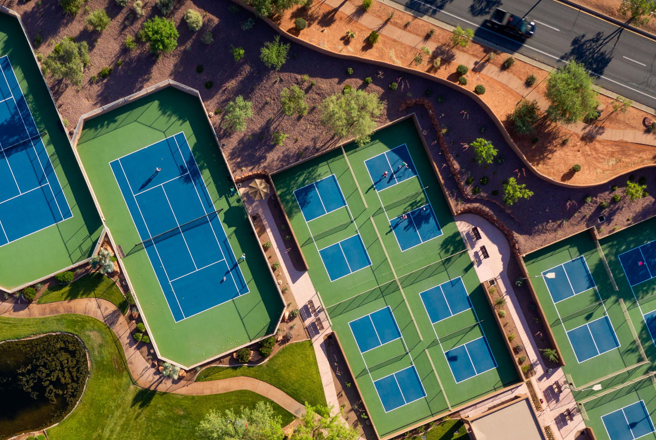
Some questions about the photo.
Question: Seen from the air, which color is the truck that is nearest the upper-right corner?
black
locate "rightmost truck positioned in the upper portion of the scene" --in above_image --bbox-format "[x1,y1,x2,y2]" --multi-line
[487,5,538,39]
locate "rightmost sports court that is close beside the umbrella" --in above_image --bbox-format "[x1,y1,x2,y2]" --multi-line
[271,144,396,307]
